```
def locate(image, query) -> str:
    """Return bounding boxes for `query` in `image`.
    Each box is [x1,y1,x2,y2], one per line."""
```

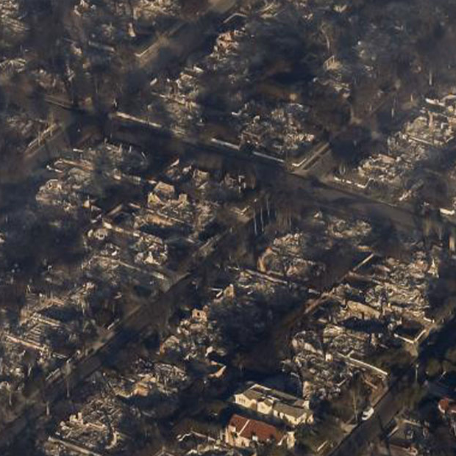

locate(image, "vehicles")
[361,407,374,420]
